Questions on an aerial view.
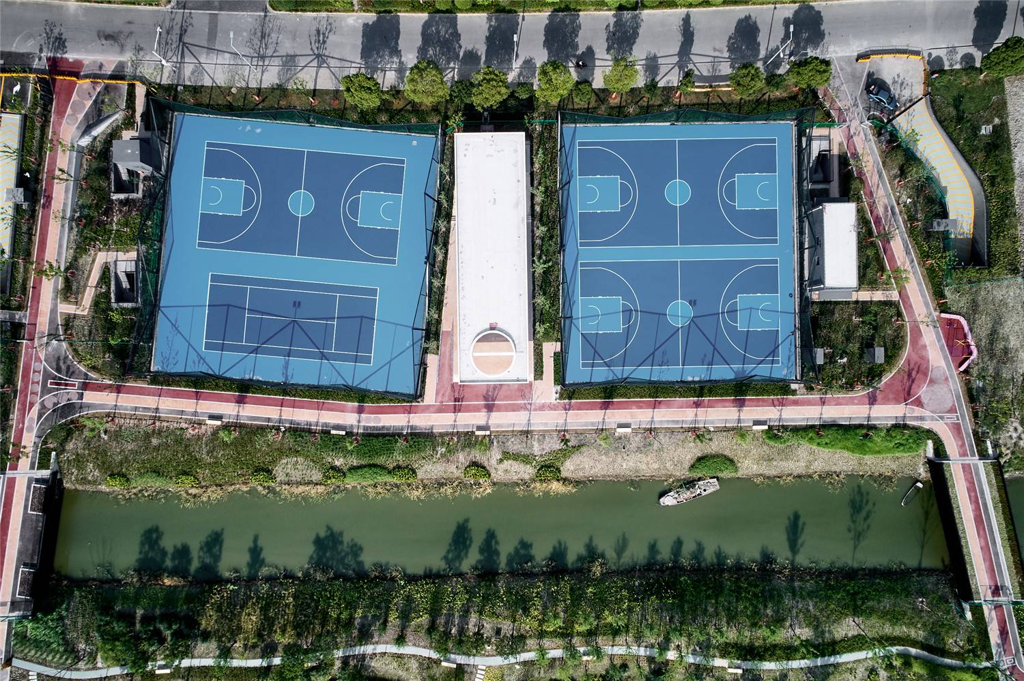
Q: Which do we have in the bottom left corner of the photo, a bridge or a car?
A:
bridge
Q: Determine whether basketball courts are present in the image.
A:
Yes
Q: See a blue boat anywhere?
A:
No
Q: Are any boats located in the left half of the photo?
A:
No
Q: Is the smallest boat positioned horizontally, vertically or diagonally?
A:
diagonally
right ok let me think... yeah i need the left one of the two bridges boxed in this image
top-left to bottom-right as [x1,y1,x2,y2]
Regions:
[0,469,62,619]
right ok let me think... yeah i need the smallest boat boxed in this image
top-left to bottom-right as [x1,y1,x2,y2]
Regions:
[901,481,924,506]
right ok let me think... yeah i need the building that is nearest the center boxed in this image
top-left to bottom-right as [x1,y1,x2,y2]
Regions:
[453,131,533,384]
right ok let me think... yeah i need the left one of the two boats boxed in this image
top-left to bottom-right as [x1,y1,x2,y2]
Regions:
[659,478,720,505]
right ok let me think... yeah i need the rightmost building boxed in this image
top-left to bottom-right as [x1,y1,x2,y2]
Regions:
[798,197,860,300]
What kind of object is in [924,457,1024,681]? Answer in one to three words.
bridge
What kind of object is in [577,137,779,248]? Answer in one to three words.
basketball court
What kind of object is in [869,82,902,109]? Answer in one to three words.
car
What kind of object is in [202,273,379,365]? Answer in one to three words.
tennis court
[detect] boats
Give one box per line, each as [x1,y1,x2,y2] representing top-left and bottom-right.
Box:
[659,478,720,505]
[901,481,924,506]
